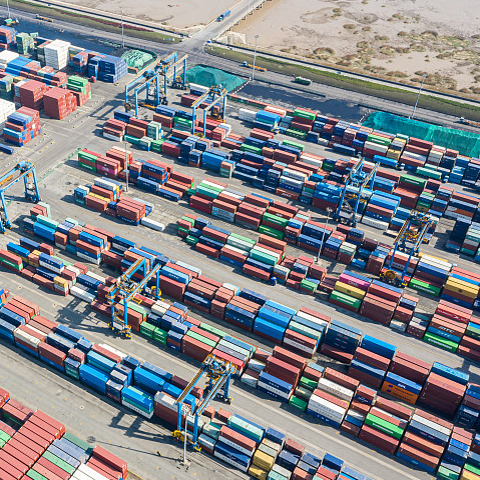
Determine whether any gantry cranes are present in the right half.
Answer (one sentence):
Yes, the scene does show a gantry crane in the right half.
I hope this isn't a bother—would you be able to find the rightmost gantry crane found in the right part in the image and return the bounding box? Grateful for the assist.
[375,212,432,289]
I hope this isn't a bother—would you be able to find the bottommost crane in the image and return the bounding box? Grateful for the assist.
[167,352,238,453]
